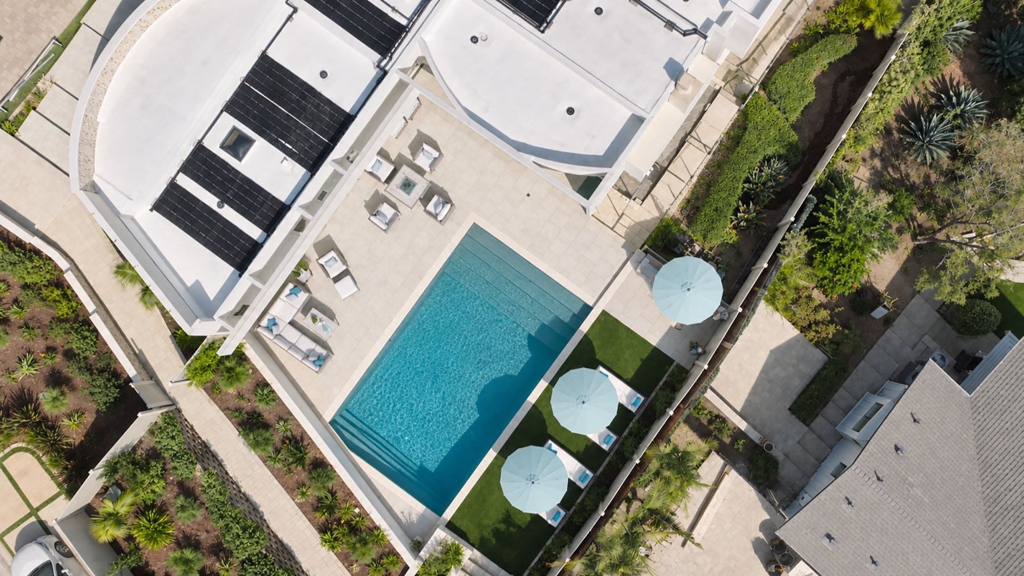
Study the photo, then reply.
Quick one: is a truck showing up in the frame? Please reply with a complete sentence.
No, this view has no truck in it.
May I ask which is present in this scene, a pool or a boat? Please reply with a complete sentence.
Of the two, only a pool appears.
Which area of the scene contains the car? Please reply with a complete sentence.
The car is in the bottom left part of the image.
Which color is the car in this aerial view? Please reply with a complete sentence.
In this view, the car is white.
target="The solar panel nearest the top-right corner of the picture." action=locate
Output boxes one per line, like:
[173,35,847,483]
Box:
[498,0,560,30]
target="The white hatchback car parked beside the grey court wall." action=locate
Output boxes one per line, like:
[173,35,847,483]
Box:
[11,532,86,576]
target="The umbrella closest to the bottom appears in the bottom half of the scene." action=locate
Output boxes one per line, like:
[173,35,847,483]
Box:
[499,443,568,513]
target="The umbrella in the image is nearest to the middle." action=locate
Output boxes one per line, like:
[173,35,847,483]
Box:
[549,366,618,435]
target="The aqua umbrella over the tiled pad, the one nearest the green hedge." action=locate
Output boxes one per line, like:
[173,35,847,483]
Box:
[651,256,721,325]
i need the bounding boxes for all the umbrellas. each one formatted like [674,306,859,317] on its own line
[499,443,568,513]
[549,366,618,435]
[651,256,721,325]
